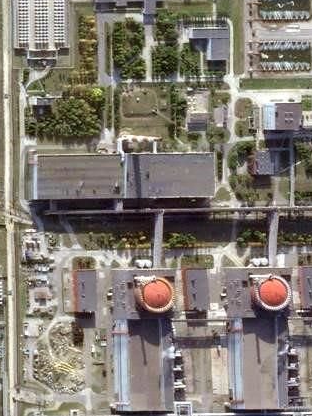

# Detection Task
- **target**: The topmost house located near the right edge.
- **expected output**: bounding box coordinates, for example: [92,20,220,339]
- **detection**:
[264,102,303,129]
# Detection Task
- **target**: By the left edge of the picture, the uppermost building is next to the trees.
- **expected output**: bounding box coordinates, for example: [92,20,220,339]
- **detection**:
[11,0,69,46]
